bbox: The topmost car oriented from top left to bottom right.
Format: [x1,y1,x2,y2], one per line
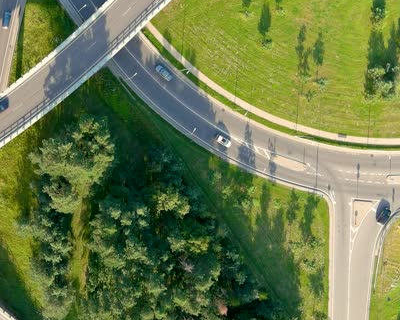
[155,64,174,82]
